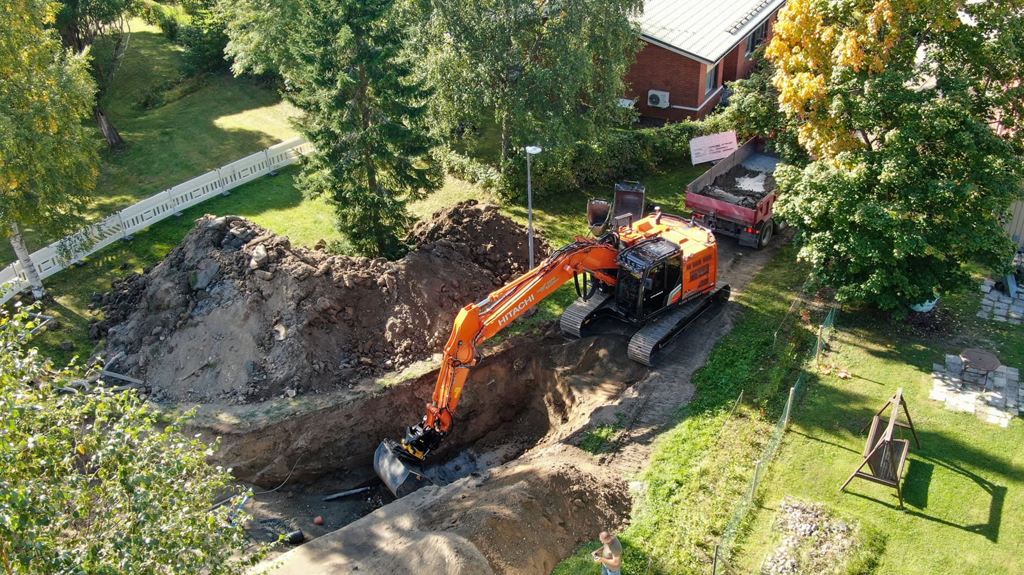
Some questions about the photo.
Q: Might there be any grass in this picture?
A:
Yes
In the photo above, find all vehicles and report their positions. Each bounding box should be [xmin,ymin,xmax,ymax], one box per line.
[681,134,788,255]
[366,203,730,496]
